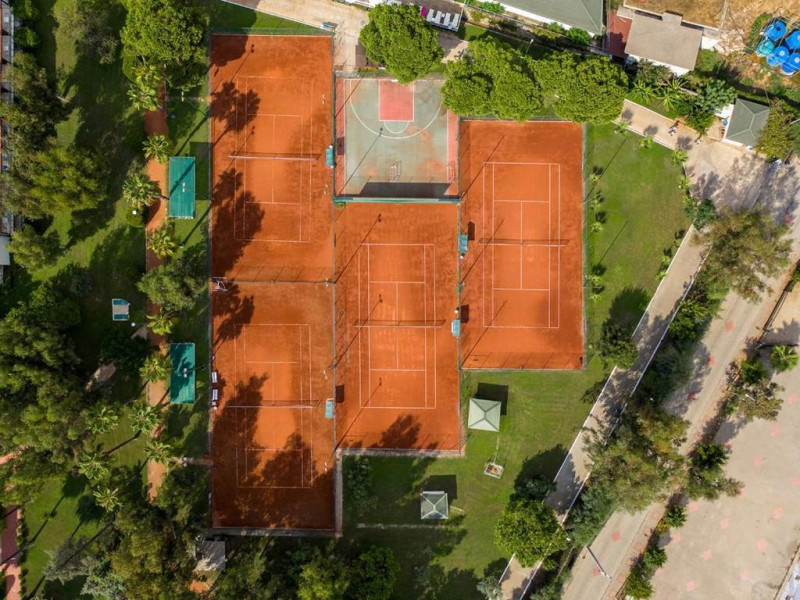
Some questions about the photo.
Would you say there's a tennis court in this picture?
Yes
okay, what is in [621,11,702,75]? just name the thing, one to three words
house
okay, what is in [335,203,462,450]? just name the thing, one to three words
tennis court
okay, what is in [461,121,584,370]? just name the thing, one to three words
tennis court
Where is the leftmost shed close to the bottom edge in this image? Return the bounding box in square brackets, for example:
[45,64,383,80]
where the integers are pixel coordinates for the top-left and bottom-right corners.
[195,536,228,571]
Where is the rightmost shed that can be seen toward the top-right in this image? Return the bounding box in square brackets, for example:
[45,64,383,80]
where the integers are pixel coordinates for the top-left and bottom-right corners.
[717,98,770,154]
